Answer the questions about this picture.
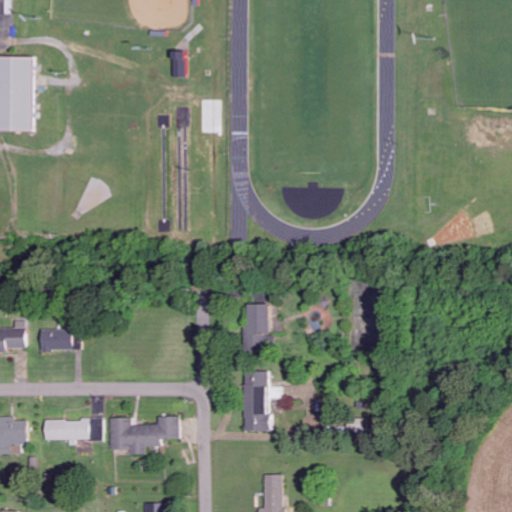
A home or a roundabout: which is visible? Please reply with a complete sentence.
It is a home that can be seen here.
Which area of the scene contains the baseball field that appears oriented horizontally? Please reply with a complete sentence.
You can find the baseball field that appears oriented horizontally in the top left area of the picture.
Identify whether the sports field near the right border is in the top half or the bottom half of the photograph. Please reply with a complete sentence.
The top half of the photo is where the sports field near the right border is.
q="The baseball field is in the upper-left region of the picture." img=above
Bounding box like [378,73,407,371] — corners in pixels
[52,0,190,29]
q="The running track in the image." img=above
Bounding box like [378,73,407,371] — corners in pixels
[232,0,396,246]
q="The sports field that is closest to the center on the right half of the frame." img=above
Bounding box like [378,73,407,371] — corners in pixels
[250,0,378,228]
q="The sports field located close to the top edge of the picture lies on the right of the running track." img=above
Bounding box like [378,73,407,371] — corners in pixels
[445,0,512,108]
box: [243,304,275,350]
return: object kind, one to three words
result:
house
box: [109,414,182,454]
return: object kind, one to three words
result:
house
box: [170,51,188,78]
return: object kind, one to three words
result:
building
